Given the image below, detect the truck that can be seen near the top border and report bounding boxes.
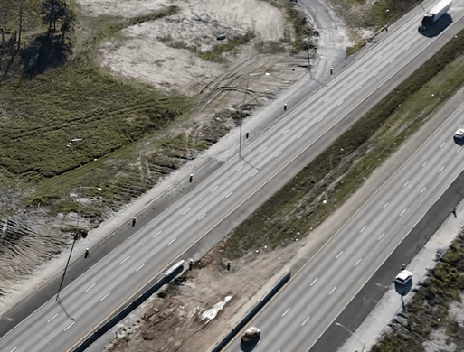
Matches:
[423,0,451,26]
